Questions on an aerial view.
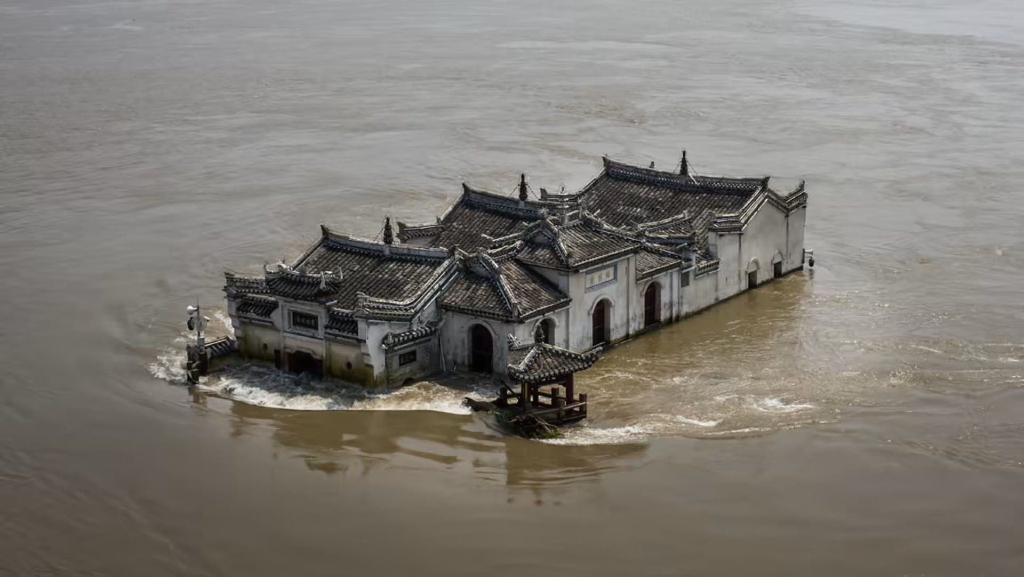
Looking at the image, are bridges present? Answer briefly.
No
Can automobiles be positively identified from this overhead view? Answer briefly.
No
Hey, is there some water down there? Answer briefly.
Yes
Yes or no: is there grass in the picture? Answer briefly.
No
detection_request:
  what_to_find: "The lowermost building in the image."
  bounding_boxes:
[496,323,607,435]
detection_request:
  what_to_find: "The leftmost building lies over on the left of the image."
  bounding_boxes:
[221,213,478,394]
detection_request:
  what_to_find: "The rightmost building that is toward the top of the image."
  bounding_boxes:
[543,150,808,300]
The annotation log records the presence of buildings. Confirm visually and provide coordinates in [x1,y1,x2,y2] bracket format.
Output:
[543,150,808,300]
[221,213,478,394]
[496,323,607,435]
